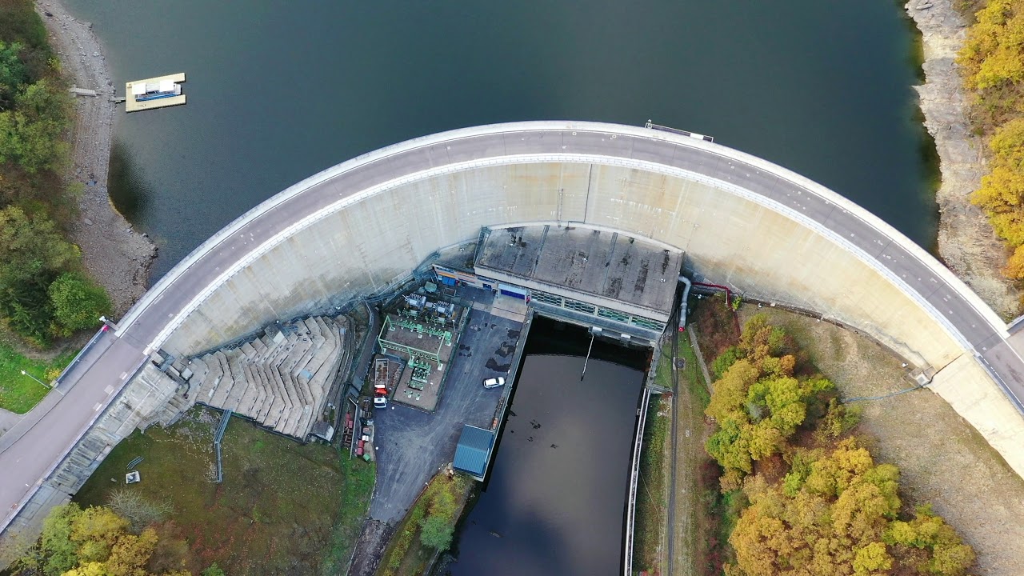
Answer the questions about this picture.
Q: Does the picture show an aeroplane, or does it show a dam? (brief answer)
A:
dam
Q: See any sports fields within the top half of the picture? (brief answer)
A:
No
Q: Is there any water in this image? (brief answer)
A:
Yes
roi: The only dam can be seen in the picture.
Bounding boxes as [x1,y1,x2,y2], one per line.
[117,120,1007,375]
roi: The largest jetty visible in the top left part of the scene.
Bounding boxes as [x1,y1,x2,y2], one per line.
[125,73,186,114]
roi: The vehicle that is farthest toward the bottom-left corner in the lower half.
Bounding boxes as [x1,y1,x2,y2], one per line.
[372,361,388,408]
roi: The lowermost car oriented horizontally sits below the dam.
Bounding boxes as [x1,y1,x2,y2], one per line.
[483,377,505,389]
